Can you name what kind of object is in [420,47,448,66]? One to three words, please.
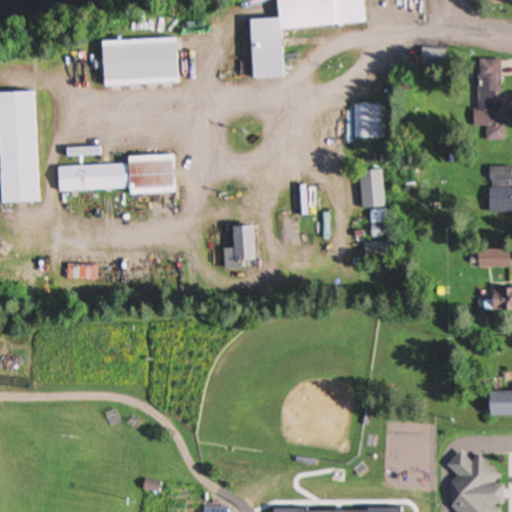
house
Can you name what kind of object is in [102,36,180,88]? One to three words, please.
shed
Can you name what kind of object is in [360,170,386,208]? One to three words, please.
shed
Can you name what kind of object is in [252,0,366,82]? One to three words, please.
building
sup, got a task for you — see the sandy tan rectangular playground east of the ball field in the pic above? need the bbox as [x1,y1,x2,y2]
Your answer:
[386,421,436,492]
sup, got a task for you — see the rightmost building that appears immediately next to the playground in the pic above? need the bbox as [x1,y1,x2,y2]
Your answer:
[444,450,502,512]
